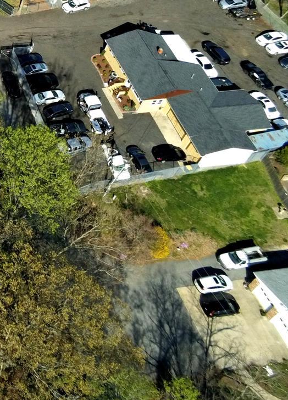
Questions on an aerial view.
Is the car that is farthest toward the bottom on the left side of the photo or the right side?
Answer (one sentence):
It is on the right.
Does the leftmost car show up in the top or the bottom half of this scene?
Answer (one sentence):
The leftmost car sits in the top half of the picture.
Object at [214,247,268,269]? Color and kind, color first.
white truck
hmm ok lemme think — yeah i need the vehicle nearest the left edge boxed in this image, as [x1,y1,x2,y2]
[0,70,22,100]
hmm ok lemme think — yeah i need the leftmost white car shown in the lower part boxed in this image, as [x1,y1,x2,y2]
[188,273,236,295]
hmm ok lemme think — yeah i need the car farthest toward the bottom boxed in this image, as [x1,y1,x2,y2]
[196,292,244,316]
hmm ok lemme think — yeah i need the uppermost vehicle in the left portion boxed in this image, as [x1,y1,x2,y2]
[62,0,92,14]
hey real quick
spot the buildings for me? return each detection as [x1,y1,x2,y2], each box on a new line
[101,30,273,171]
[241,267,288,364]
